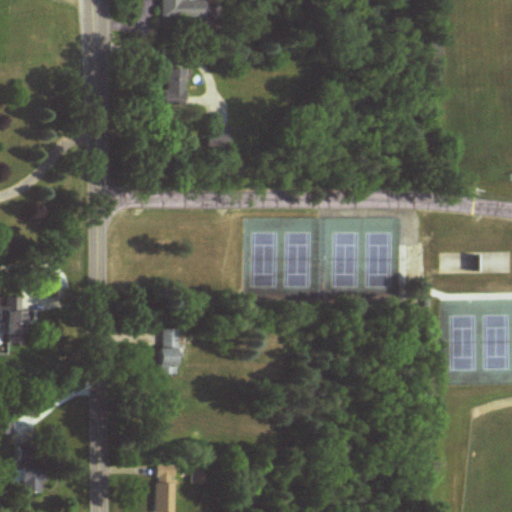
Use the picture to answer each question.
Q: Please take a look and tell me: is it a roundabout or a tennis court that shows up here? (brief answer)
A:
tennis court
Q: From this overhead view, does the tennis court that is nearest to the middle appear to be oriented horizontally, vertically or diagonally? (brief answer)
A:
vertically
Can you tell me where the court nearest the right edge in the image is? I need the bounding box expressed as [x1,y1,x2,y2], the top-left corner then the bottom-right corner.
[479,301,512,385]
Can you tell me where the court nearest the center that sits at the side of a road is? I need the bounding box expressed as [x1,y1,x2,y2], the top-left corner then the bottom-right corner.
[244,218,281,292]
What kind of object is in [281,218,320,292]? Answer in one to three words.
tennis court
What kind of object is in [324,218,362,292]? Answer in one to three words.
tennis court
